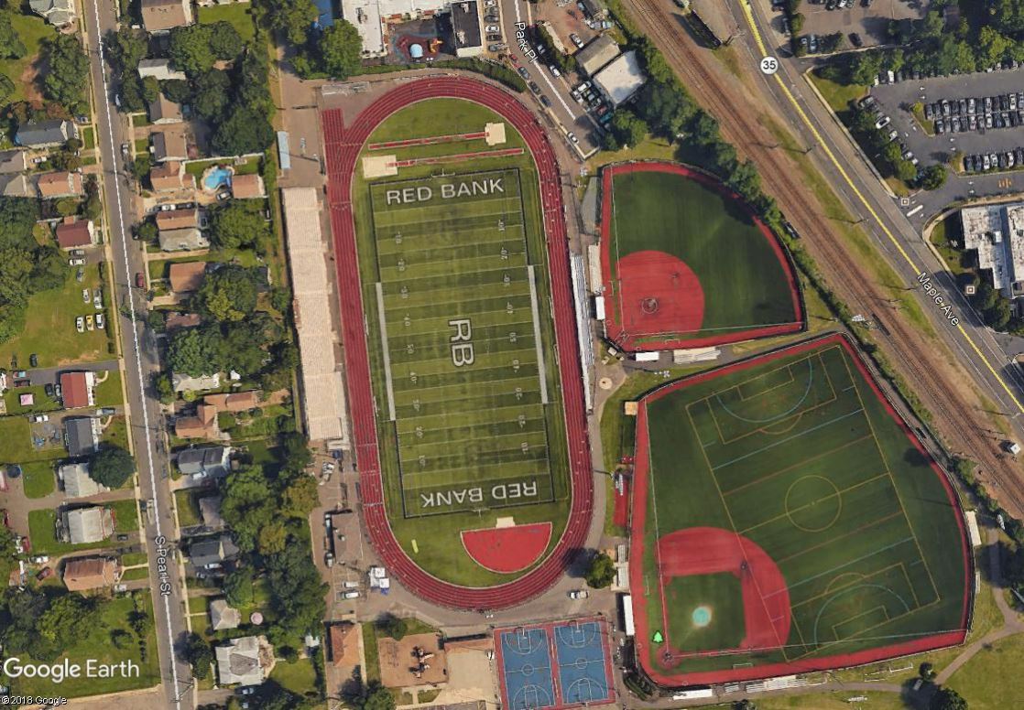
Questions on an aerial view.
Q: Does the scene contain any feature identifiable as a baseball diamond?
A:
Yes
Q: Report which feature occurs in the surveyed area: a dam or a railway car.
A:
railway car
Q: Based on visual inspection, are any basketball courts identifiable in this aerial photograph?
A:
Yes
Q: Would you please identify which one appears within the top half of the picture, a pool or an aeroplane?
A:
pool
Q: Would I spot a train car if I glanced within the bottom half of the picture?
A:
No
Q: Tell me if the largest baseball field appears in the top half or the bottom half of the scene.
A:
bottom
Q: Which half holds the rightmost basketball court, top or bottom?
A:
bottom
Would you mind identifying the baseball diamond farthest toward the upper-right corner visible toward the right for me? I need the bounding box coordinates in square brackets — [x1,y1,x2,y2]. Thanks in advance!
[601,162,806,352]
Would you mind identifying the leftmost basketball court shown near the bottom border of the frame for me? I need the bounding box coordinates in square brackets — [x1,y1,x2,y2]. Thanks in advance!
[493,625,559,710]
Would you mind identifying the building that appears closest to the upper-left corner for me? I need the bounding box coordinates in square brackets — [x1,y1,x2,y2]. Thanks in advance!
[32,0,87,29]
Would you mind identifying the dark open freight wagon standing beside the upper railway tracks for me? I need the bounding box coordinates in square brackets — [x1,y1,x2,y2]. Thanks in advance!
[692,6,725,45]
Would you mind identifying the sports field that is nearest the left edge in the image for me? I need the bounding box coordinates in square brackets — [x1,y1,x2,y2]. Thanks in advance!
[366,165,560,520]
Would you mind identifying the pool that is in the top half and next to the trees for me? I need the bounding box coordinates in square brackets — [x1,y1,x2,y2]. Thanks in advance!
[202,166,234,190]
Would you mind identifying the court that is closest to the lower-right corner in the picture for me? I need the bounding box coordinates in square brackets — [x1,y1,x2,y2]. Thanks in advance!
[551,617,616,710]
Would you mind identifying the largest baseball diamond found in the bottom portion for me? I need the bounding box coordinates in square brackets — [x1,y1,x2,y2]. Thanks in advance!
[629,332,975,688]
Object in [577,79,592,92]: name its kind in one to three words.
vehicle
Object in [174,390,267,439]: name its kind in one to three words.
house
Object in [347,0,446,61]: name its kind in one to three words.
building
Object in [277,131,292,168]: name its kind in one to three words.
shed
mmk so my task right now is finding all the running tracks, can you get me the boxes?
[322,74,596,611]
